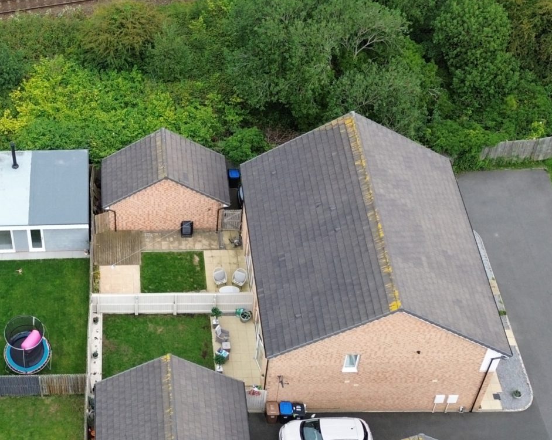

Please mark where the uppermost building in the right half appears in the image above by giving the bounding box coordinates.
[240,110,515,416]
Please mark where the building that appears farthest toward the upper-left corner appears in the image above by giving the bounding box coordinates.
[100,127,232,233]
